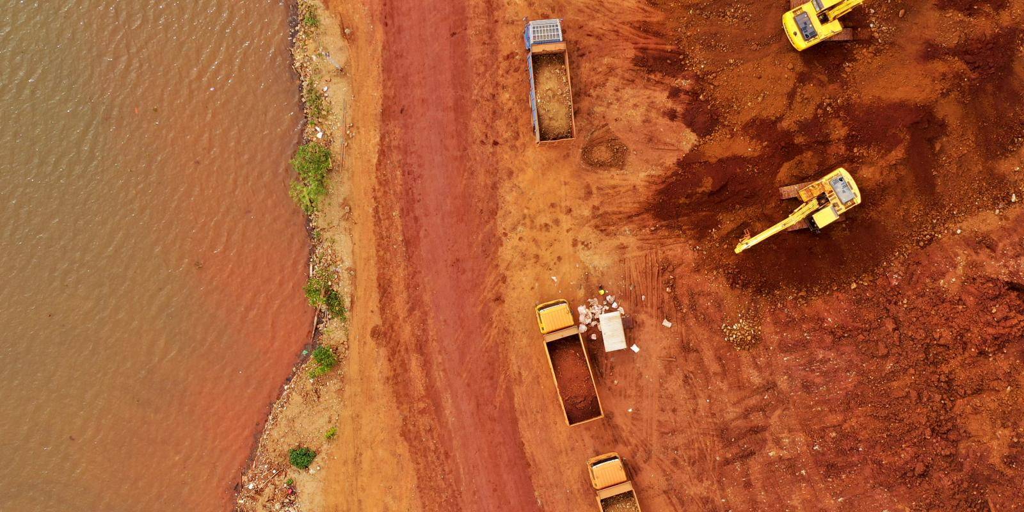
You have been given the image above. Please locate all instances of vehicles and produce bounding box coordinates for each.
[730,168,860,252]
[780,0,879,52]
[584,447,641,512]
[525,17,578,147]
[533,299,603,427]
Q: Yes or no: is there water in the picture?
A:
Yes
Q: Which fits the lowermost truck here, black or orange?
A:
orange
